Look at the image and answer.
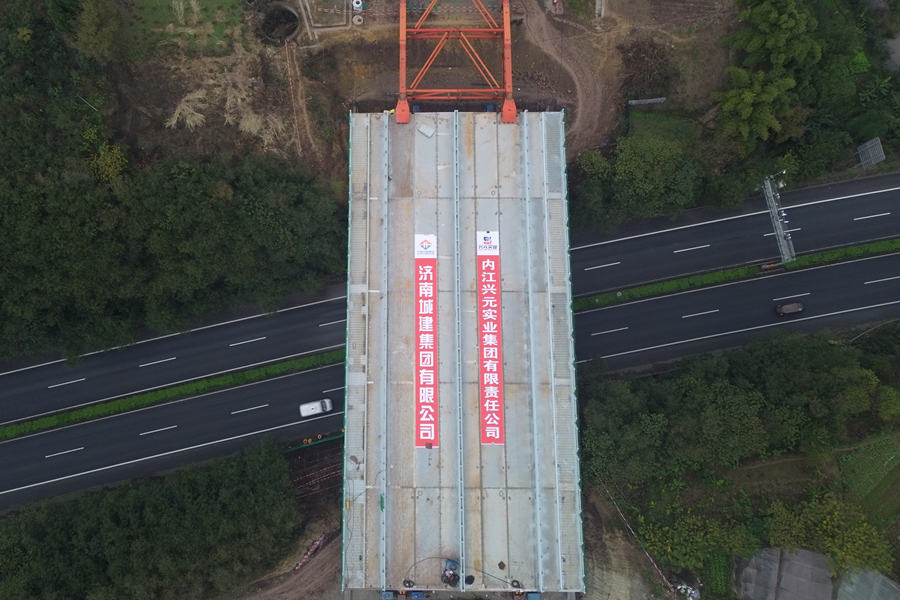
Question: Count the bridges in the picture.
1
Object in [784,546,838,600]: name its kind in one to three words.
greenhouse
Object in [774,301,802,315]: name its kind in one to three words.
car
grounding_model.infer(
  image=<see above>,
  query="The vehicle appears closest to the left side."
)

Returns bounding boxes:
[300,400,333,416]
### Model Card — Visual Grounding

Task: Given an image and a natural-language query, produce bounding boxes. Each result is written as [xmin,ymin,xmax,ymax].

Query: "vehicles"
[774,301,802,315]
[300,400,333,416]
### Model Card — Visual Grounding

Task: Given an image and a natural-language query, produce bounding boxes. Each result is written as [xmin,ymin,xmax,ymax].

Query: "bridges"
[340,104,588,597]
